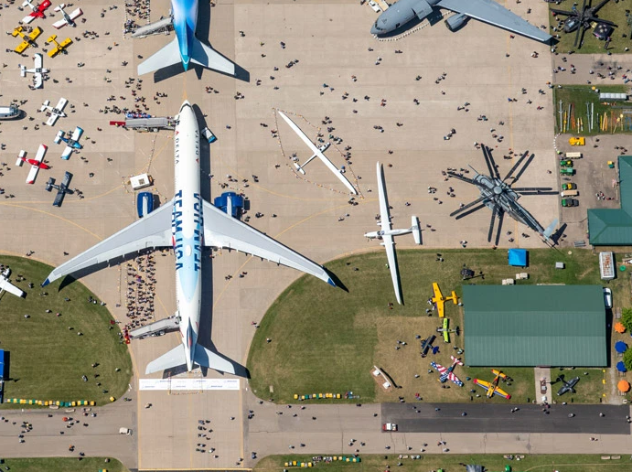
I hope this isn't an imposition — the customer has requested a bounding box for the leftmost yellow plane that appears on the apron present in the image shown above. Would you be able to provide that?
[13,24,43,54]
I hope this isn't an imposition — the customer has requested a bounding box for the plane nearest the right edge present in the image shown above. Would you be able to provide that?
[558,372,580,394]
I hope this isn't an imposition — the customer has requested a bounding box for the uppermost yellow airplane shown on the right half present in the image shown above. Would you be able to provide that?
[427,282,459,318]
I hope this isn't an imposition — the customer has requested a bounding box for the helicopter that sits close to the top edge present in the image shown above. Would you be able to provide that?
[550,0,620,46]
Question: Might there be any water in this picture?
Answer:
No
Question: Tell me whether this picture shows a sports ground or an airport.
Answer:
airport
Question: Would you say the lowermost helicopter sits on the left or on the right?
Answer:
right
